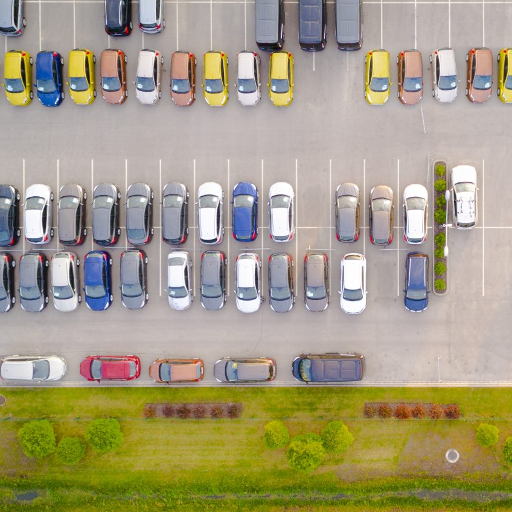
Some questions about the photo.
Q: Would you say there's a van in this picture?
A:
Yes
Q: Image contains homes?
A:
No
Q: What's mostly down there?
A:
paved ground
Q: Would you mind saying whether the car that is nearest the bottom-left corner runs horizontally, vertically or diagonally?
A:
horizontally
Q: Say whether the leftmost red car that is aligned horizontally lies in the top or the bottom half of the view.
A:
bottom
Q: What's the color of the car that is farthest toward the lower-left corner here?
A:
white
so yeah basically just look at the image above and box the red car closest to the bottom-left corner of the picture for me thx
[84,356,138,383]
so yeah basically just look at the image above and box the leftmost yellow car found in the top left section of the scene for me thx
[3,51,34,106]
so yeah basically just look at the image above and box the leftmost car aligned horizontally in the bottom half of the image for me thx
[1,355,65,384]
